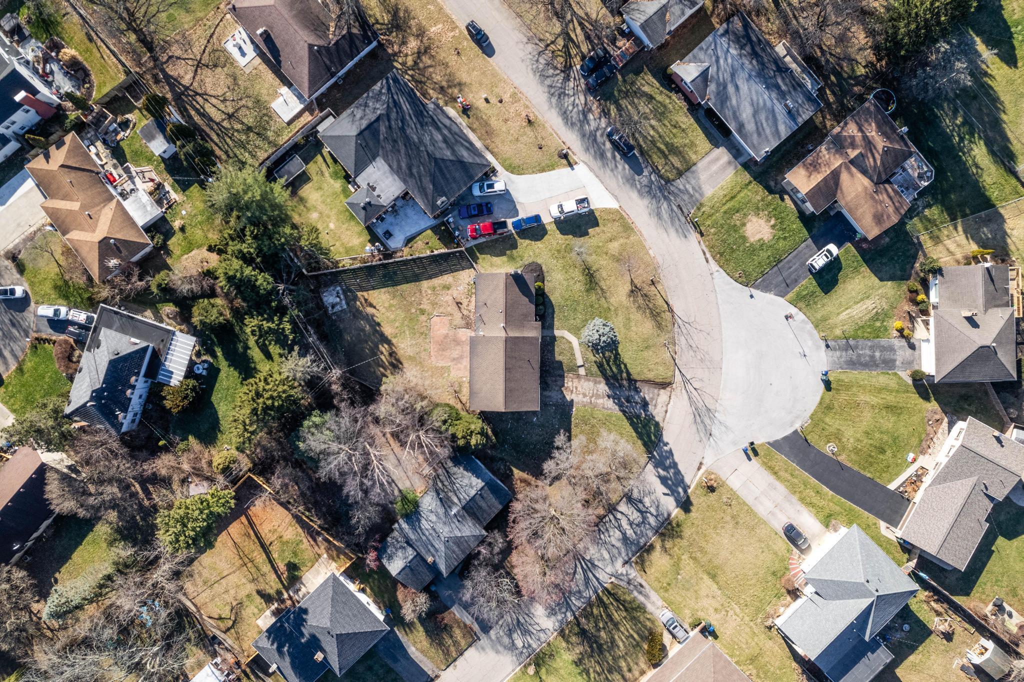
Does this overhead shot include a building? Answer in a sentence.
Yes, the picture does show a building.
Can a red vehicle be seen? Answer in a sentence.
Yes, a red vehicle can be made out from above.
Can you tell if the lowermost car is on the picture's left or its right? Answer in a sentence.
The lowermost car appears in the right half of the scene.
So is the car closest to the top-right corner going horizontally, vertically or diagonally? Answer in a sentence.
In this picture, the car closest to the top-right corner is oriented diagonally.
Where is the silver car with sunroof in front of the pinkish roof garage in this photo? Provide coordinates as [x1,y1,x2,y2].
[659,608,688,644]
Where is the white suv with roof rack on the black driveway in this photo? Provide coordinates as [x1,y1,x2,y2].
[805,245,839,273]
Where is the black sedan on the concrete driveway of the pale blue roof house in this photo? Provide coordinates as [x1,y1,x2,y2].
[782,519,807,551]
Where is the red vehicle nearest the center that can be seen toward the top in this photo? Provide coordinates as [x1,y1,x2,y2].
[467,220,507,239]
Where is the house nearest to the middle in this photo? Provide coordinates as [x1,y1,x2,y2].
[469,270,542,412]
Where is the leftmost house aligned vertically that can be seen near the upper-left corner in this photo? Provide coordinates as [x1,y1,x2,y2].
[0,32,67,169]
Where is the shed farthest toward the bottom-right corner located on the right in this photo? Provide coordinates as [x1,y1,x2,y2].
[968,638,1012,682]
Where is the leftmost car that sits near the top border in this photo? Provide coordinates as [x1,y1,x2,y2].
[466,16,490,52]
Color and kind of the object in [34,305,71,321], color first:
white car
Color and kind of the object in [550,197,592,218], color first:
white truck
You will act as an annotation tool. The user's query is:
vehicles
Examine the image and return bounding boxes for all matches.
[64,325,89,344]
[466,16,490,52]
[782,519,807,551]
[576,47,611,76]
[511,215,542,231]
[67,309,95,328]
[550,197,592,218]
[582,62,619,91]
[659,608,688,644]
[471,180,506,197]
[805,245,839,273]
[0,284,28,300]
[458,202,493,219]
[34,305,71,321]
[467,220,507,239]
